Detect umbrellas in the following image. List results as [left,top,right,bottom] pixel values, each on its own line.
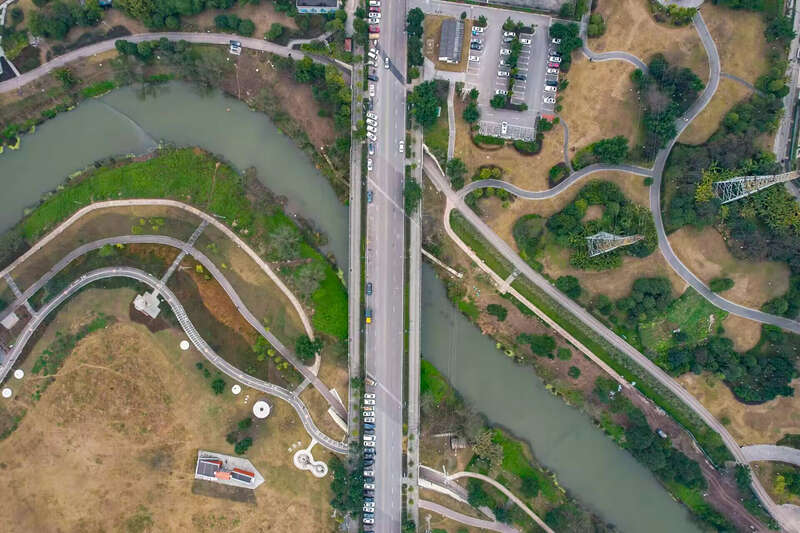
[231,385,241,394]
[180,340,189,349]
[2,388,12,398]
[14,370,25,378]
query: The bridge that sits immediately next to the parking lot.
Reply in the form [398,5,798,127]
[347,142,423,533]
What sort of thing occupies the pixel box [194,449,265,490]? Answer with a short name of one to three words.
building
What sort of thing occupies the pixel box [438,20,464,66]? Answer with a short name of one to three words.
building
